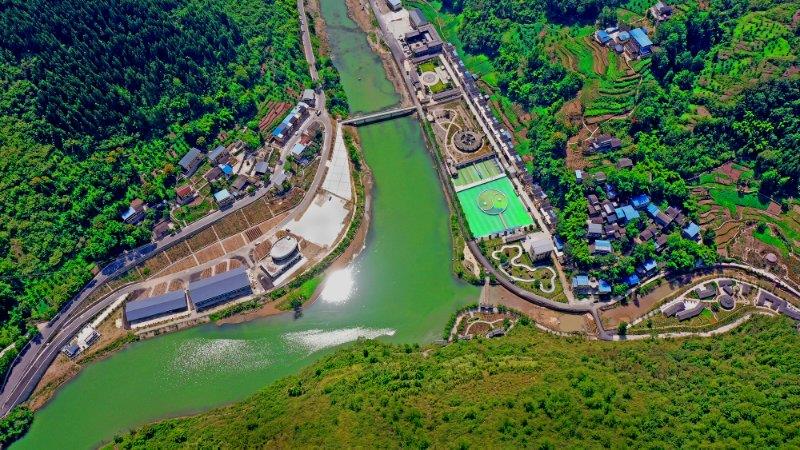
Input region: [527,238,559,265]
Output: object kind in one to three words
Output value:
building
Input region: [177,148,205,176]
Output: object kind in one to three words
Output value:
house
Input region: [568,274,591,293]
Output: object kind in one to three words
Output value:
house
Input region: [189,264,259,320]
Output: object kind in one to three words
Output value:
shed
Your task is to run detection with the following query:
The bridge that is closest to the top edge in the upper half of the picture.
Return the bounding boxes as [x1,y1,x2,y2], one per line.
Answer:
[344,104,417,127]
